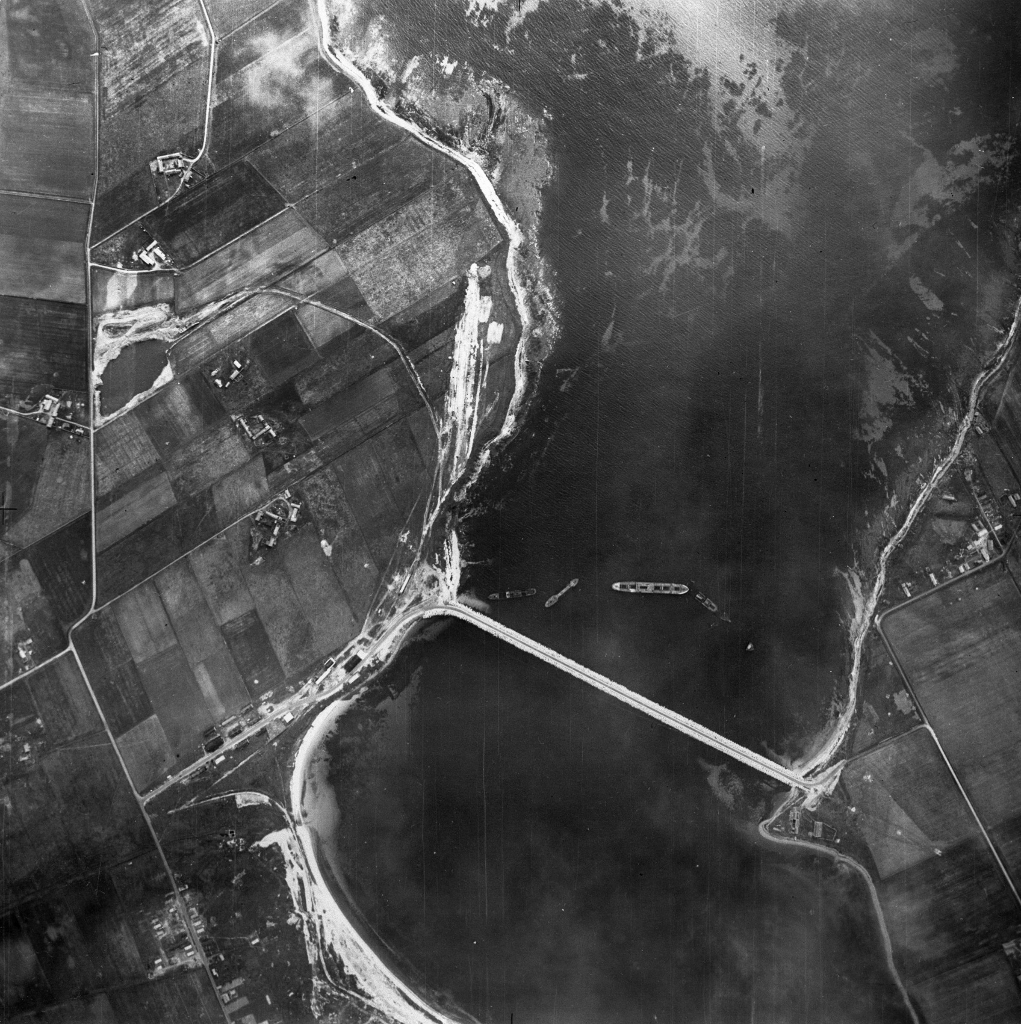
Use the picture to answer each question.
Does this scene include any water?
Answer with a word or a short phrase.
Yes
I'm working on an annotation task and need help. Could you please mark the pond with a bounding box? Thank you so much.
[96,338,171,416]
